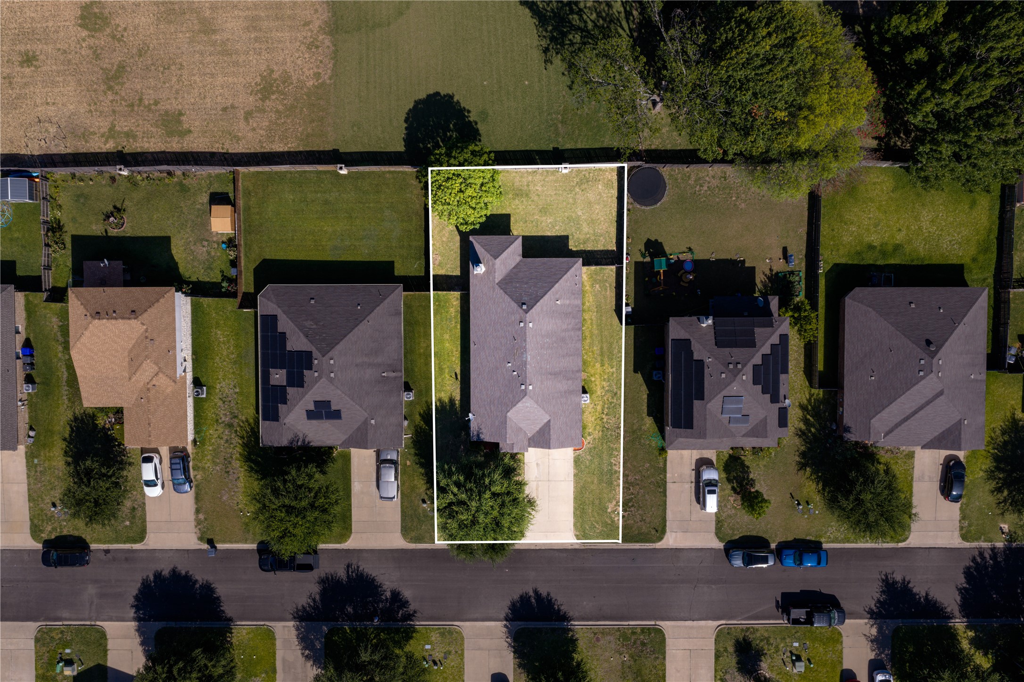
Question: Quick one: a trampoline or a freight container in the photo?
trampoline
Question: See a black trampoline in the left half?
No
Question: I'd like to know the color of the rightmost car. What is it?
black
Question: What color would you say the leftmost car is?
black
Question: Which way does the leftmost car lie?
from left to right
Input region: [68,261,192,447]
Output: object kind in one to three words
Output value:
house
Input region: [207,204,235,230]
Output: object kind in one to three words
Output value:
shed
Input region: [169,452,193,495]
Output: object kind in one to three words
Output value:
car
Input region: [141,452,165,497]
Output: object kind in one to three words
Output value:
car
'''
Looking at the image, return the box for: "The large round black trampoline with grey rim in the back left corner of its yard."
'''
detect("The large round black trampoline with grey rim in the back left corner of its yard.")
[628,165,669,206]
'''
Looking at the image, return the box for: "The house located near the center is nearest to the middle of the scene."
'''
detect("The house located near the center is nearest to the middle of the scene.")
[467,235,582,453]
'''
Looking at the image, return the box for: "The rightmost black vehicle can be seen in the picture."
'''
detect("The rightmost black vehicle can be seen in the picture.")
[943,457,969,500]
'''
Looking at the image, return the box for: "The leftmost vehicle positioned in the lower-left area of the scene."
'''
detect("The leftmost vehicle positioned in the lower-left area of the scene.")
[38,547,90,571]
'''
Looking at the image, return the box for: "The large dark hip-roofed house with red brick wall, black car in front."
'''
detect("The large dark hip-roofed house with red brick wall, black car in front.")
[837,286,988,451]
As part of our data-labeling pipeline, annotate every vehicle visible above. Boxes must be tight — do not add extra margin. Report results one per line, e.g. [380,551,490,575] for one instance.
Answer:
[255,550,318,575]
[780,548,829,571]
[943,457,969,500]
[728,548,776,571]
[789,604,849,629]
[378,449,400,502]
[169,452,193,495]
[697,463,720,510]
[141,452,165,497]
[38,547,90,571]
